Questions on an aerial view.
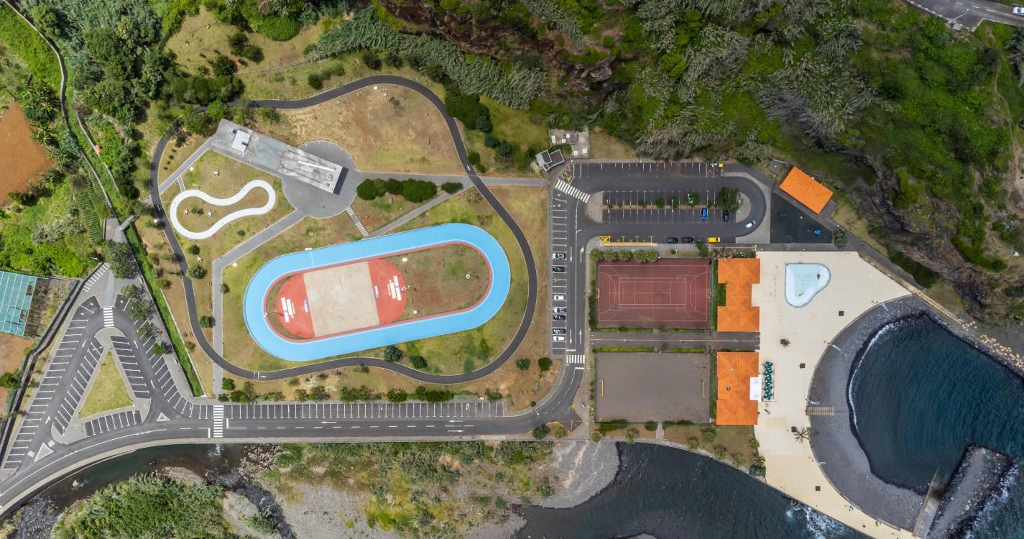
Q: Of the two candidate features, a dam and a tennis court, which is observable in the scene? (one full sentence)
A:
The one in the frame is a tennis court.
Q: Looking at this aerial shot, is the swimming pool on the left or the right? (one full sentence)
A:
You can find the swimming pool on the right side of the picture.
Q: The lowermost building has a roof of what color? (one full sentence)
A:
From above, the roof of the lowermost building looks orange.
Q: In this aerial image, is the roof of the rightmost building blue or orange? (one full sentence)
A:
From above, the roof of the rightmost building appears orange.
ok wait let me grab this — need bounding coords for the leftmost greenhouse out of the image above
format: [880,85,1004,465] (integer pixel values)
[0,269,37,336]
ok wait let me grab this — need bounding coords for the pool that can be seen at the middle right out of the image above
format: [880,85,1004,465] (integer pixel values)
[784,262,831,308]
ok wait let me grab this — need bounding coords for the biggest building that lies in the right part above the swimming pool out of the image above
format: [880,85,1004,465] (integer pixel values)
[778,166,834,214]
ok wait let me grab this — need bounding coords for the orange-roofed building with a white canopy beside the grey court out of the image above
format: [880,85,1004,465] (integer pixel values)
[715,352,761,425]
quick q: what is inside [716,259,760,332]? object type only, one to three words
building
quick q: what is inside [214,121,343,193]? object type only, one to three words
building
